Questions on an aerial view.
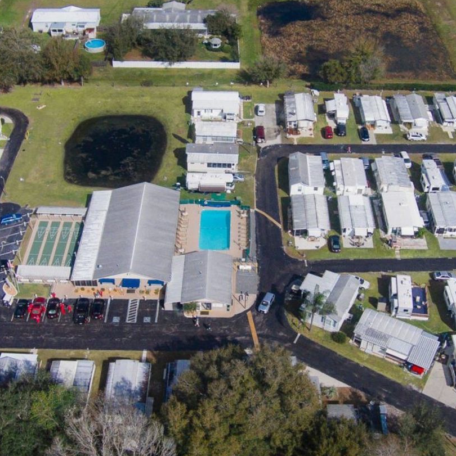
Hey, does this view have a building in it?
Yes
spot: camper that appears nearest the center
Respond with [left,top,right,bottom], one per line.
[187,172,233,193]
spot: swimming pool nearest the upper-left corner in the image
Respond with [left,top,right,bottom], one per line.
[84,42,107,55]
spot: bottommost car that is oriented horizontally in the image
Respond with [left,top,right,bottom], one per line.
[404,363,435,377]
